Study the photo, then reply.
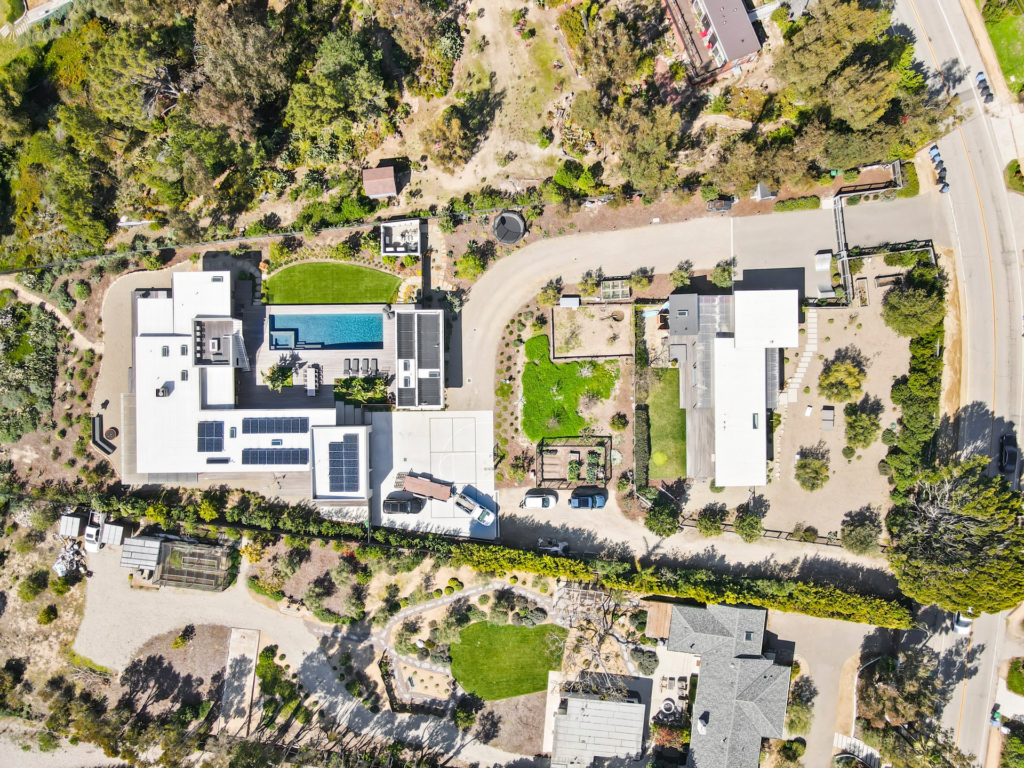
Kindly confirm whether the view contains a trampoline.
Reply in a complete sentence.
Yes, you can see a trampoline in this photo.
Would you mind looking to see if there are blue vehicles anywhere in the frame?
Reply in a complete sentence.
Yes, there's a blue vehicle here.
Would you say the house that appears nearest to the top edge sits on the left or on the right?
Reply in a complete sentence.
The house that appears nearest to the top edge sits on the right side.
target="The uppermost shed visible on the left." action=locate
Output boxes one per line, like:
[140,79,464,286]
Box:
[362,166,398,199]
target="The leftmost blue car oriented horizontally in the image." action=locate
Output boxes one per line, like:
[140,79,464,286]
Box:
[569,494,604,511]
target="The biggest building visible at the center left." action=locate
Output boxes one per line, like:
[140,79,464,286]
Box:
[136,271,378,499]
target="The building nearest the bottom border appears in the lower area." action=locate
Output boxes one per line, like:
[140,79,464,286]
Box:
[551,686,645,768]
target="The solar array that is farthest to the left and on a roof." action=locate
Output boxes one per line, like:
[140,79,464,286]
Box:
[198,422,223,452]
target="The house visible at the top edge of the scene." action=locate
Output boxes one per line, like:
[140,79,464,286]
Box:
[696,0,761,73]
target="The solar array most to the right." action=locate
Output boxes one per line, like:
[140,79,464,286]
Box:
[329,435,358,492]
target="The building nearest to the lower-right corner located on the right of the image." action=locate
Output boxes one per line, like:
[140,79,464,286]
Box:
[667,602,791,768]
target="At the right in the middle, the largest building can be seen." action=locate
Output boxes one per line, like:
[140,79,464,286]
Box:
[714,290,799,486]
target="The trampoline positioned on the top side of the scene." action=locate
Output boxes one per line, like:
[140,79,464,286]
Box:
[492,208,525,244]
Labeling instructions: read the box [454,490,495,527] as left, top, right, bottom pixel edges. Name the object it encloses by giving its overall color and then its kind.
white truck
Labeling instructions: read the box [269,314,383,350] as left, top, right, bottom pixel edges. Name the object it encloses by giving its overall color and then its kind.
blue swimming pool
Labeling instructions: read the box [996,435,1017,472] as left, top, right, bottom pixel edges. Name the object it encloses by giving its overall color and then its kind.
black car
